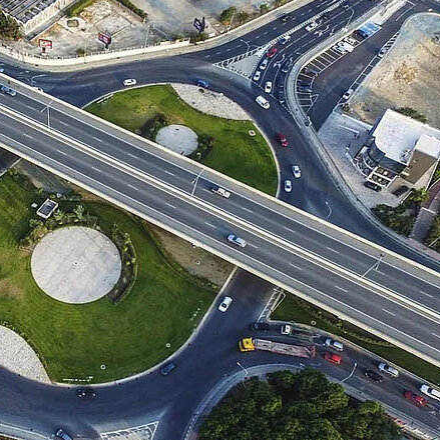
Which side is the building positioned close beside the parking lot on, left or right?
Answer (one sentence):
The building positioned close beside the parking lot sits on the right side.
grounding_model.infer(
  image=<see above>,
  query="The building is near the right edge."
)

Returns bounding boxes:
[360,108,440,186]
